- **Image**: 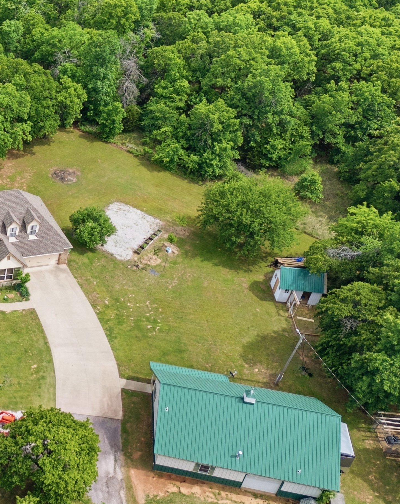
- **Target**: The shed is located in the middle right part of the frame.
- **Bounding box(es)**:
[269,267,325,305]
